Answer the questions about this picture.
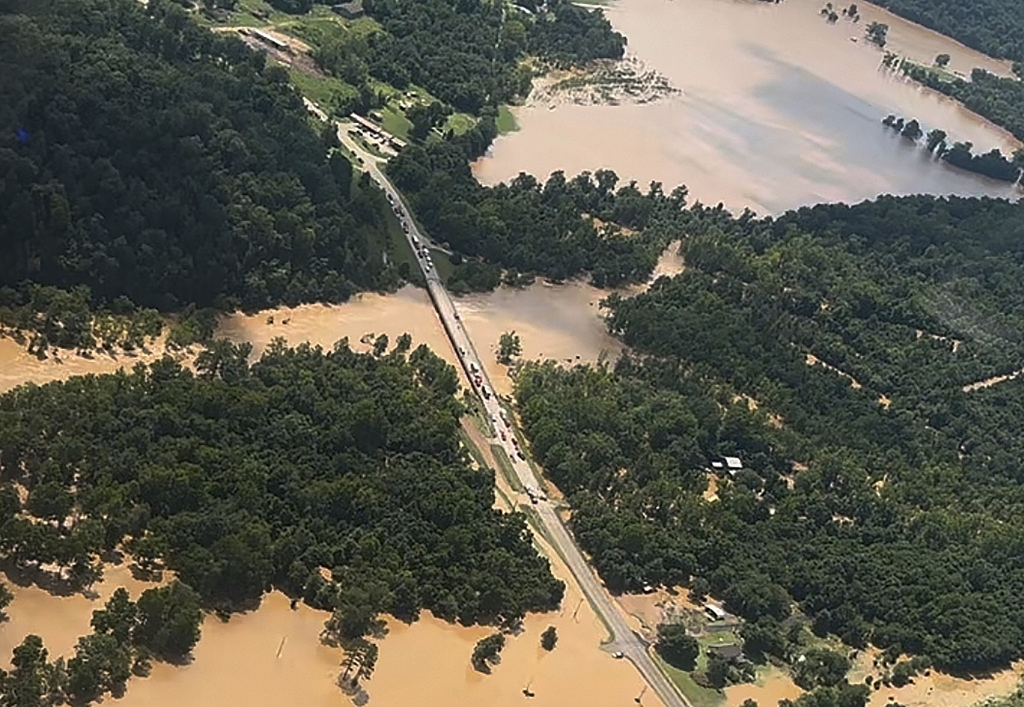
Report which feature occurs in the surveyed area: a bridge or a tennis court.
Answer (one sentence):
This aerial view contains a bridge.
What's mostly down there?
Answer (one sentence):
For the most part, this view shows trees.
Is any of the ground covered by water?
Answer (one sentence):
Yes, water can be seen from above here.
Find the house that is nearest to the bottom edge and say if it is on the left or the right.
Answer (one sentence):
The house that is nearest to the bottom edge appears in the right half of the scene.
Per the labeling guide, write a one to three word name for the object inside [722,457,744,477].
building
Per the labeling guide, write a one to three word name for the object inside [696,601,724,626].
house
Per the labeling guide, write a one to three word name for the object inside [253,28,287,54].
barn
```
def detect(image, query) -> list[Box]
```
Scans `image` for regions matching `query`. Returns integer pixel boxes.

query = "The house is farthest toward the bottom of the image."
[700,642,744,672]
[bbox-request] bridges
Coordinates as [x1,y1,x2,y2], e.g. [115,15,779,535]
[422,273,504,401]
